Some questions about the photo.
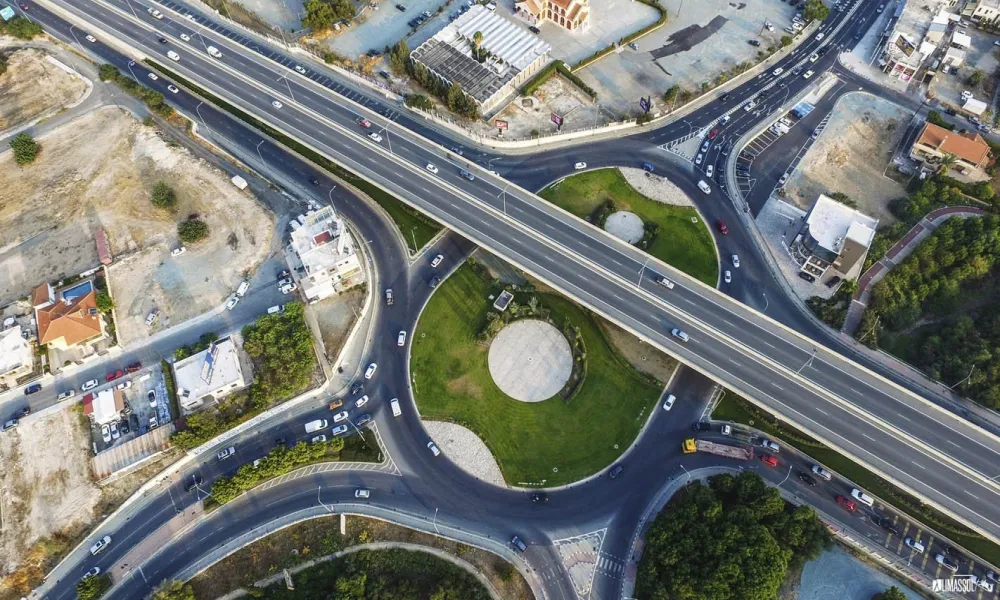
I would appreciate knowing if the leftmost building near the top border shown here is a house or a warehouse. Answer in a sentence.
It turns out the leftmost building near the top border is a warehouse.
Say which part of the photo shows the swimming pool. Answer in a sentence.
The swimming pool is located in the left region of the scene.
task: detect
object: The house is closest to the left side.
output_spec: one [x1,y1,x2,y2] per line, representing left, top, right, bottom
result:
[0,325,46,393]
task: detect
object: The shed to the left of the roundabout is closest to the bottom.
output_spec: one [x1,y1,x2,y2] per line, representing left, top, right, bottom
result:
[92,424,178,479]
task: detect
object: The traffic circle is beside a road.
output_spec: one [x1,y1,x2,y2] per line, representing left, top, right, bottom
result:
[384,145,762,544]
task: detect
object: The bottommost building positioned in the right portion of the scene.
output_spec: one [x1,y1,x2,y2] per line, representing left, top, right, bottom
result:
[783,193,878,280]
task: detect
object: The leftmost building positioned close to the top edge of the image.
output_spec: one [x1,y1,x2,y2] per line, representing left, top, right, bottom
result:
[411,6,553,118]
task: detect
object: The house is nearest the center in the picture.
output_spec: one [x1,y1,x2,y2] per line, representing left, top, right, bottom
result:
[289,205,364,311]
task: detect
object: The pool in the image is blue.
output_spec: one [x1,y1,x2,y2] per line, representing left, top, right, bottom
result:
[62,279,96,299]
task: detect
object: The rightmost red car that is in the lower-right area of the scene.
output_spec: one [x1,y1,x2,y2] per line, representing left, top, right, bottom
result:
[835,495,858,513]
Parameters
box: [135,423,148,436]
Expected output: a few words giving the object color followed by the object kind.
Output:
blue vehicle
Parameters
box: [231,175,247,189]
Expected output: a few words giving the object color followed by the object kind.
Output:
white vehicle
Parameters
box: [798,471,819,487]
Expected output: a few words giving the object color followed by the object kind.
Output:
black car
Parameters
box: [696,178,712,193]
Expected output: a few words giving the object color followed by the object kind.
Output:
white vehicle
